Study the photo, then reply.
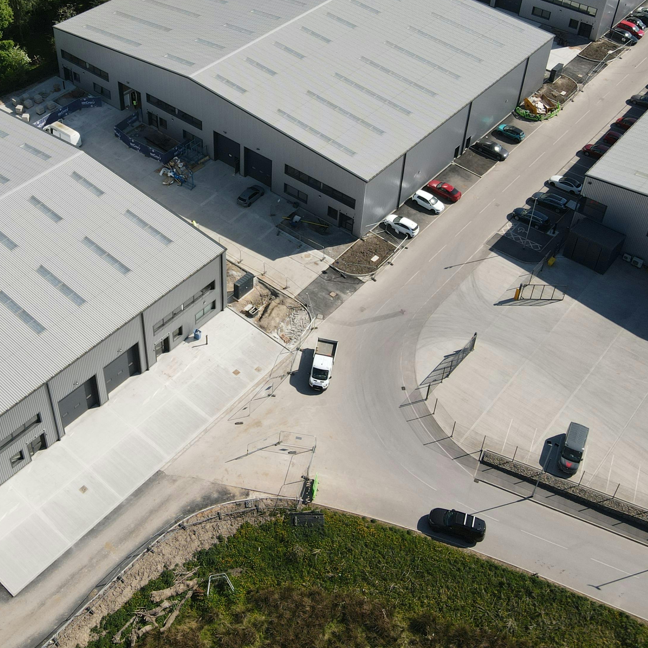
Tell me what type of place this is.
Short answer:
industrial area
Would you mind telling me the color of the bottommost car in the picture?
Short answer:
black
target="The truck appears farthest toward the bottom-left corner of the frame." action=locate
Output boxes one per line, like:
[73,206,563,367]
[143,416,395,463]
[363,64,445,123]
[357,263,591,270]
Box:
[307,336,338,392]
